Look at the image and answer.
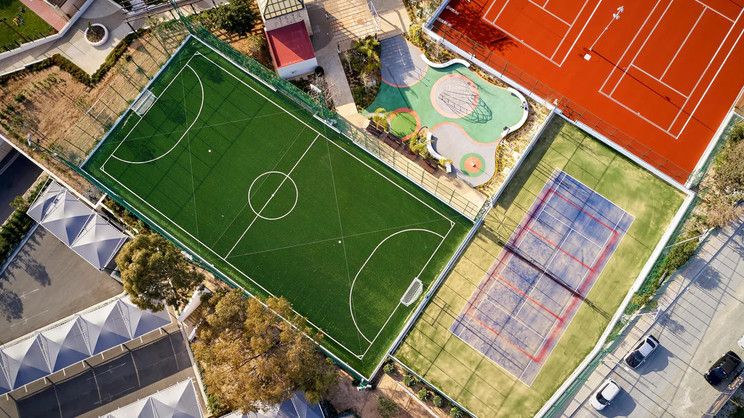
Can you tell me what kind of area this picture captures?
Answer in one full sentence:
It's a sports ground.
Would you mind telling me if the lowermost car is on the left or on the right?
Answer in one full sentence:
The lowermost car is on the right side of the image.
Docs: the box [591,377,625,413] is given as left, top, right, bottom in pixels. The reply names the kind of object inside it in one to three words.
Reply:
car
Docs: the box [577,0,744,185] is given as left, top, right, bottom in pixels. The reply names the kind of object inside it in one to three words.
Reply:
tennis court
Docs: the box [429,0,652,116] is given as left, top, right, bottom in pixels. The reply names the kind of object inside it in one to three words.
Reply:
tennis court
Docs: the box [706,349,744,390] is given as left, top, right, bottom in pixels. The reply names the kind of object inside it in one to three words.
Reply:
vehicle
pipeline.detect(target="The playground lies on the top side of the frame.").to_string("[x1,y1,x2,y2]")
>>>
[365,35,525,188]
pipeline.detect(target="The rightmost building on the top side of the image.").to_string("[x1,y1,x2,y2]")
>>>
[253,0,318,79]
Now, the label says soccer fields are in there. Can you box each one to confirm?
[82,37,477,379]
